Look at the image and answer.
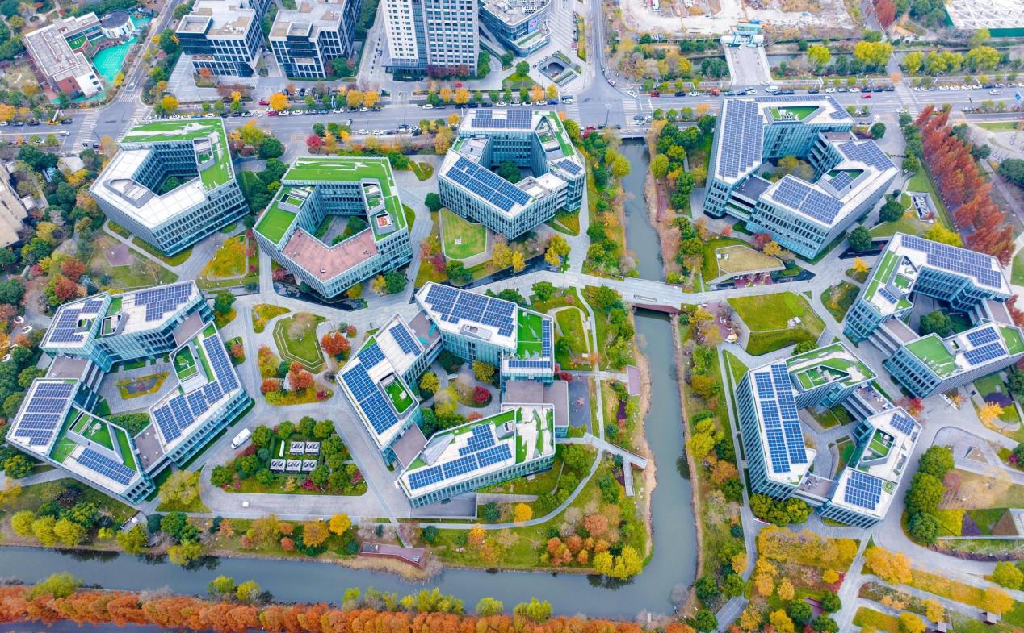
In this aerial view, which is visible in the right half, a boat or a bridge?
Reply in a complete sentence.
Looking in the right half, you will find a bridge.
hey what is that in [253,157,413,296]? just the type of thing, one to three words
building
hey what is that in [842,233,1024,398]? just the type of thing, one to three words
building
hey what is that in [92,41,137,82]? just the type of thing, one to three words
playground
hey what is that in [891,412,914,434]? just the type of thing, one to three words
solar array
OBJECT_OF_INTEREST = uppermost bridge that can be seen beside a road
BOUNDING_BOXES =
[726,45,776,86]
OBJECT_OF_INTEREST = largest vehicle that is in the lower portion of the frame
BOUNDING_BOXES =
[229,426,250,449]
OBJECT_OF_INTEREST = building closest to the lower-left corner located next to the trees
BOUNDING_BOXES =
[6,280,252,505]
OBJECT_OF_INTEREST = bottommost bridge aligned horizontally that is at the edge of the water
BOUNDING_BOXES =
[618,278,684,309]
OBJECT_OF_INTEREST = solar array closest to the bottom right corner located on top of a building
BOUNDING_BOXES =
[845,470,882,511]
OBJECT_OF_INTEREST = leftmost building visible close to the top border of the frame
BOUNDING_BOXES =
[25,12,110,96]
